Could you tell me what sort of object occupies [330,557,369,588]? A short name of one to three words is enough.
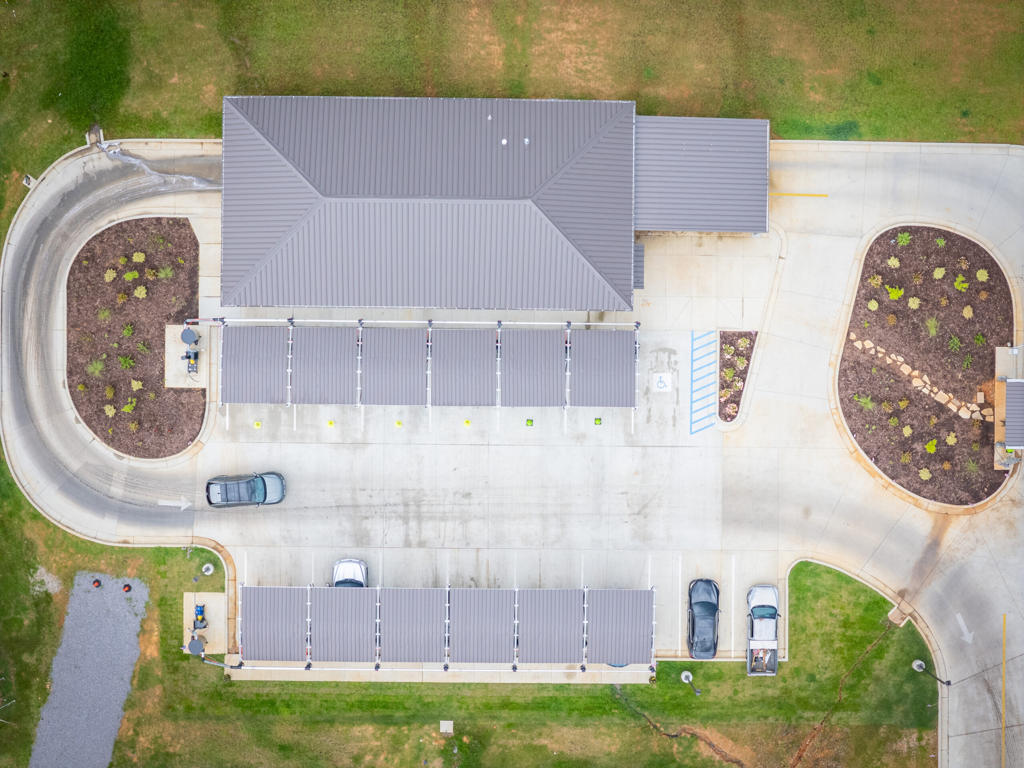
car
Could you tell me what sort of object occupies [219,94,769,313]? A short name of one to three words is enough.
building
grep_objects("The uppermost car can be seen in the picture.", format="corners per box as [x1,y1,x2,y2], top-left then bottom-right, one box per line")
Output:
[206,472,286,509]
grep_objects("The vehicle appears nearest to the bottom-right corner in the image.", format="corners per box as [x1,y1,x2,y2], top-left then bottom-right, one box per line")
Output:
[744,584,782,678]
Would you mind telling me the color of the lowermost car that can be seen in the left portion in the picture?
white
